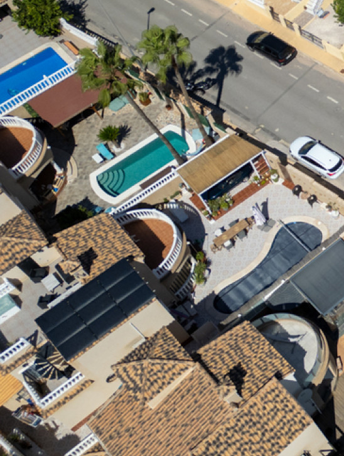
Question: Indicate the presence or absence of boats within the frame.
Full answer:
No, no boat is visible in the view.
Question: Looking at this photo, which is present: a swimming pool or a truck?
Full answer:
It is a swimming pool that can be seen here.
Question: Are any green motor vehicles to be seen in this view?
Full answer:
No, there isn't any green motor vehicle down there.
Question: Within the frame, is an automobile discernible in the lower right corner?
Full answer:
No, there's no automobile to be seen in the lower right corner.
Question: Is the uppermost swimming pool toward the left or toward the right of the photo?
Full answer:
The uppermost swimming pool sits on the left side.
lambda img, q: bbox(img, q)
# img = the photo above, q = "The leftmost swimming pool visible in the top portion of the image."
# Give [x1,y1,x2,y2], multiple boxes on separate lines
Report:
[0,40,77,105]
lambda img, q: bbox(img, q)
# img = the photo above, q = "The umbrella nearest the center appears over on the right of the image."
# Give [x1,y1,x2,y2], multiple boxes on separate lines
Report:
[256,210,272,232]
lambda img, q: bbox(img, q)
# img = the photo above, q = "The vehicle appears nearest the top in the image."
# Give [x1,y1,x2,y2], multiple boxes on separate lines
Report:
[244,32,302,67]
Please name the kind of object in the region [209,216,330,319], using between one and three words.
swimming pool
